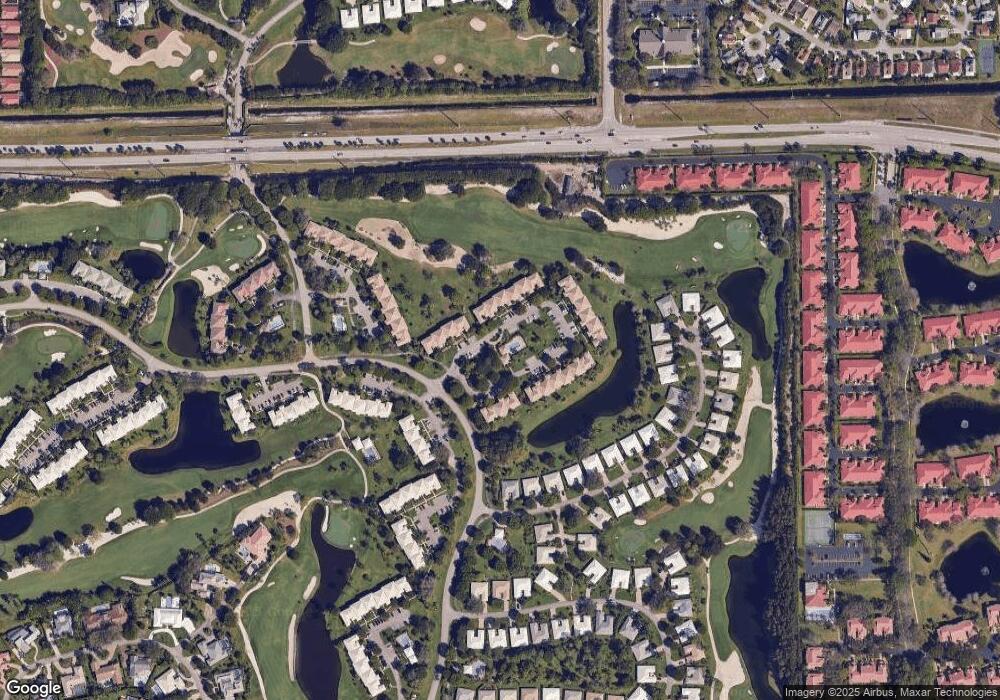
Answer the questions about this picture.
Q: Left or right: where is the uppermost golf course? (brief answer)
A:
left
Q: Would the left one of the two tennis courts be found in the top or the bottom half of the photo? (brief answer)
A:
bottom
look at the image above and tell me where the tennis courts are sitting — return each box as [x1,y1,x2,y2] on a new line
[978,38,996,75]
[804,511,835,545]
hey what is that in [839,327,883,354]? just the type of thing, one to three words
house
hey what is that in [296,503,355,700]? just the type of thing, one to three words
pond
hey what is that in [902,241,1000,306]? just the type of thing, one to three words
pond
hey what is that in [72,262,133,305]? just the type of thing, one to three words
building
